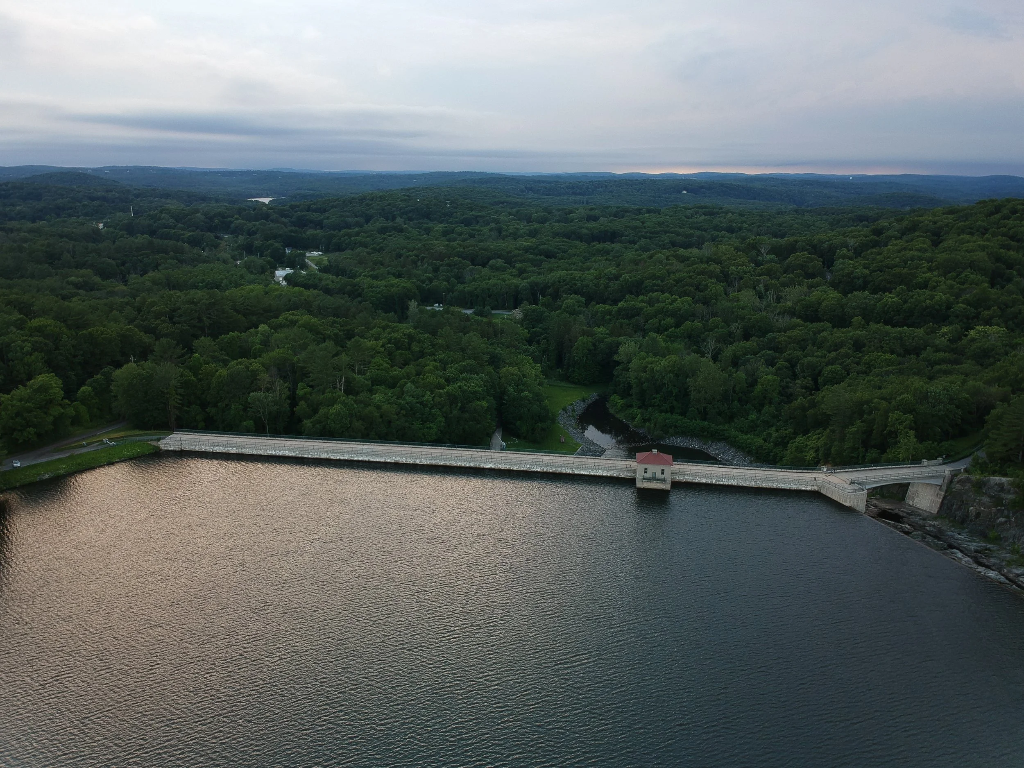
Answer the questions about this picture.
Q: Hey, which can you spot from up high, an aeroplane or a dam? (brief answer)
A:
dam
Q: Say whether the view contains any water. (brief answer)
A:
Yes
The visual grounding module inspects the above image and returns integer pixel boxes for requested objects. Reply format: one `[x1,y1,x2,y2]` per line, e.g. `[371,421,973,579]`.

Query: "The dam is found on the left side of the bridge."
[154,432,819,491]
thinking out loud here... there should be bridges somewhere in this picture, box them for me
[823,457,967,487]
